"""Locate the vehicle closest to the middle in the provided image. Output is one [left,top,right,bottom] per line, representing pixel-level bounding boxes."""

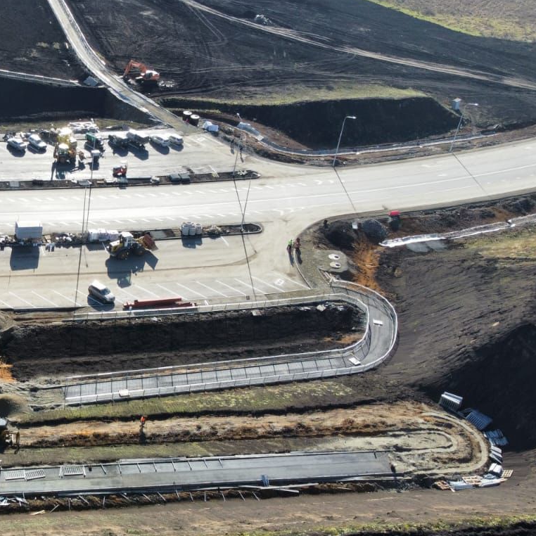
[111,235,160,258]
